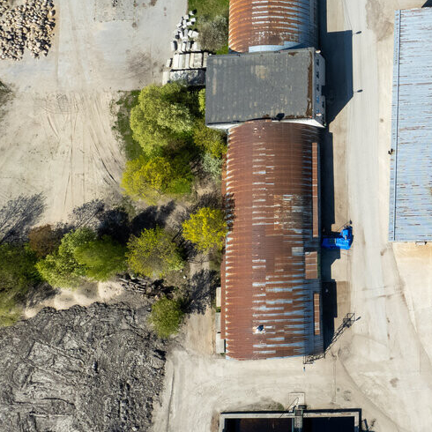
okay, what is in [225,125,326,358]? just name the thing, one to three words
building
